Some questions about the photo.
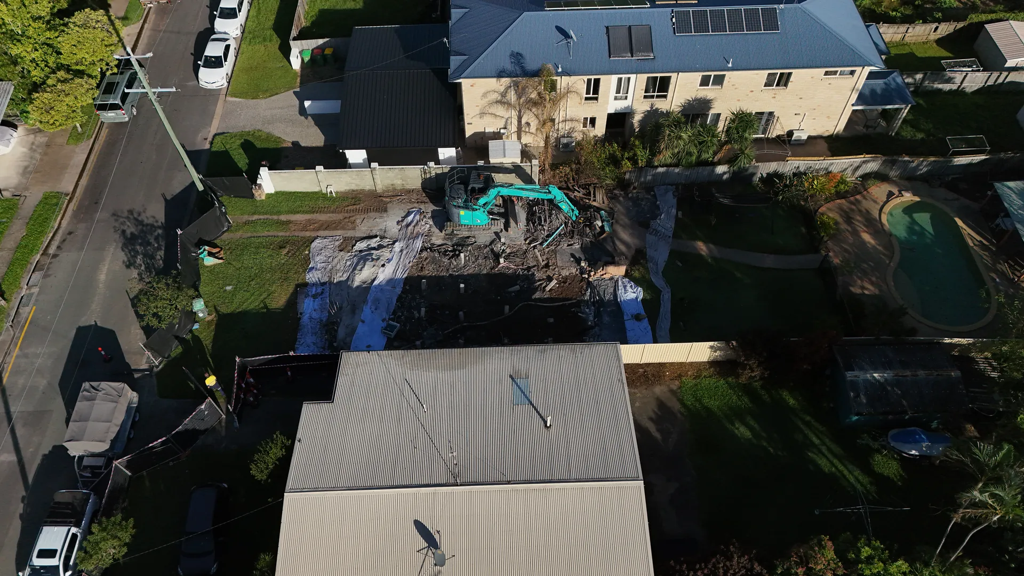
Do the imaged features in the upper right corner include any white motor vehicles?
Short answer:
No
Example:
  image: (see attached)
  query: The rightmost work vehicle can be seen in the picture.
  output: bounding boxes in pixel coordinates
[445,168,617,238]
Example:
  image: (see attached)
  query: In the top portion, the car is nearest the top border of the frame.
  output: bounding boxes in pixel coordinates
[213,0,252,36]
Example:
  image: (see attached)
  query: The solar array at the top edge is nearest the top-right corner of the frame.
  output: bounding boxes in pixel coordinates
[670,5,781,34]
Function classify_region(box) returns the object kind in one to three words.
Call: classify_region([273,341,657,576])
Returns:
house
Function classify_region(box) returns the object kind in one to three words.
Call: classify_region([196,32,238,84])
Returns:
car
